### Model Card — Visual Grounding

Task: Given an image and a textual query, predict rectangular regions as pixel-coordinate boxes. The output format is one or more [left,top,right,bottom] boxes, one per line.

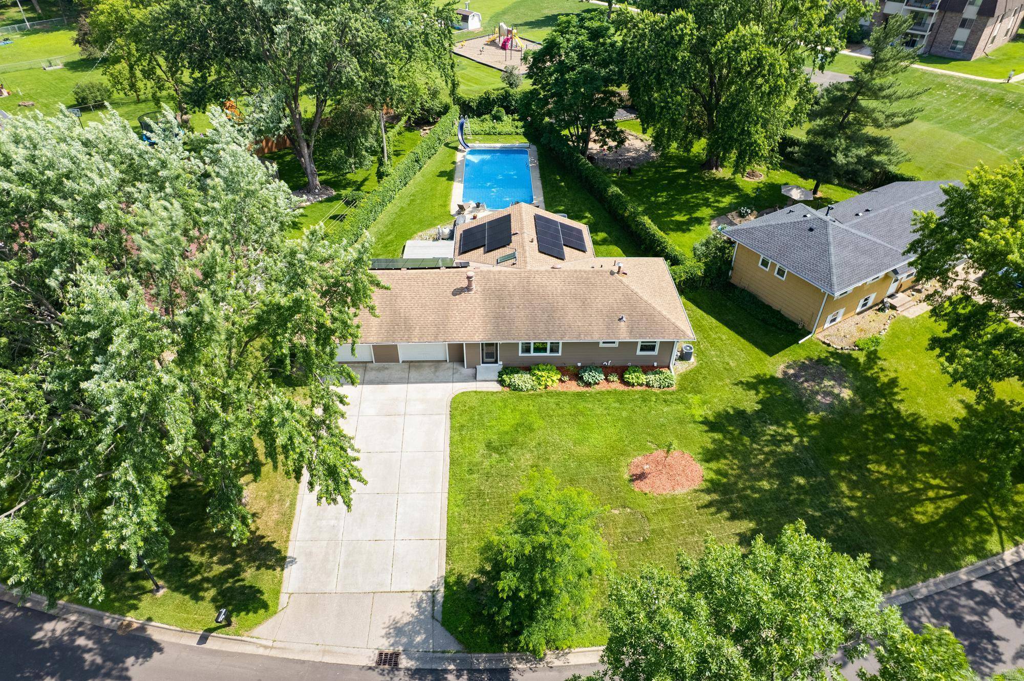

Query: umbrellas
[779,184,812,206]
